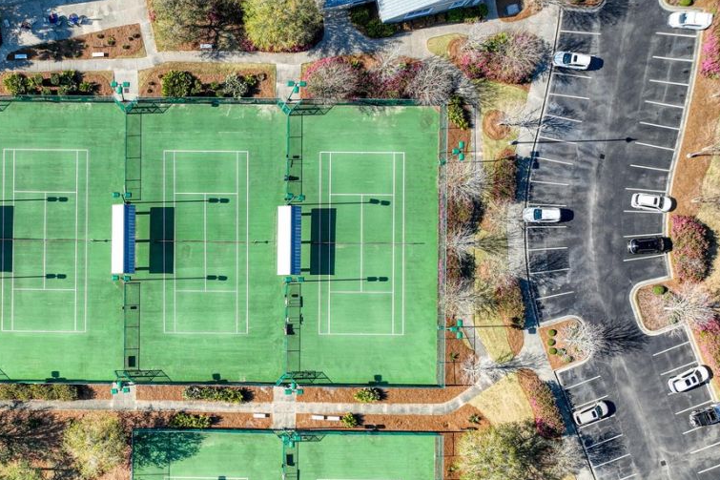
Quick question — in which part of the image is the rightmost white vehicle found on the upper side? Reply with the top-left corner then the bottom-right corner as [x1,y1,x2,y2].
[665,9,712,30]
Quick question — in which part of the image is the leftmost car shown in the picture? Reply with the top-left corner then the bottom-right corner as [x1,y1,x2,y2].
[522,206,561,224]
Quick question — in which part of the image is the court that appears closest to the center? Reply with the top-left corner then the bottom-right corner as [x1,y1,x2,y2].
[285,104,438,384]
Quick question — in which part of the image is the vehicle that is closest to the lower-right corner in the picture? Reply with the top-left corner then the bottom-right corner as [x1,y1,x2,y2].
[685,403,720,426]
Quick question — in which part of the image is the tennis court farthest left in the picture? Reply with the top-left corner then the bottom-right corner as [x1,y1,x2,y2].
[0,102,125,382]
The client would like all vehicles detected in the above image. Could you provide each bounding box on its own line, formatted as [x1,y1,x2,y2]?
[628,194,670,211]
[685,403,720,426]
[625,235,664,253]
[569,399,608,425]
[522,206,561,224]
[551,49,591,70]
[665,366,708,393]
[665,9,712,30]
